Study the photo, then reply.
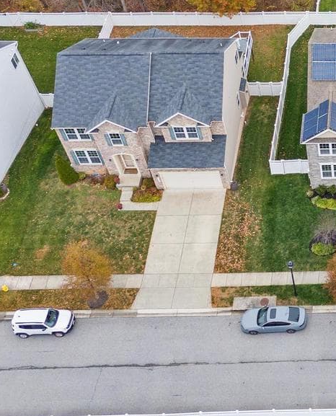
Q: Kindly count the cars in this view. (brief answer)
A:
2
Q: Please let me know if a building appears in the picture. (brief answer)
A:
Yes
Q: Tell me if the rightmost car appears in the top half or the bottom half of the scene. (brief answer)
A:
bottom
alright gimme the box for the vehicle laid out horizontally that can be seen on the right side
[241,305,307,336]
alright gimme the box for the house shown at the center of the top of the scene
[51,21,256,194]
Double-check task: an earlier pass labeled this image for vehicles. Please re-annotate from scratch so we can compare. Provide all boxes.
[9,307,72,338]
[241,305,307,336]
